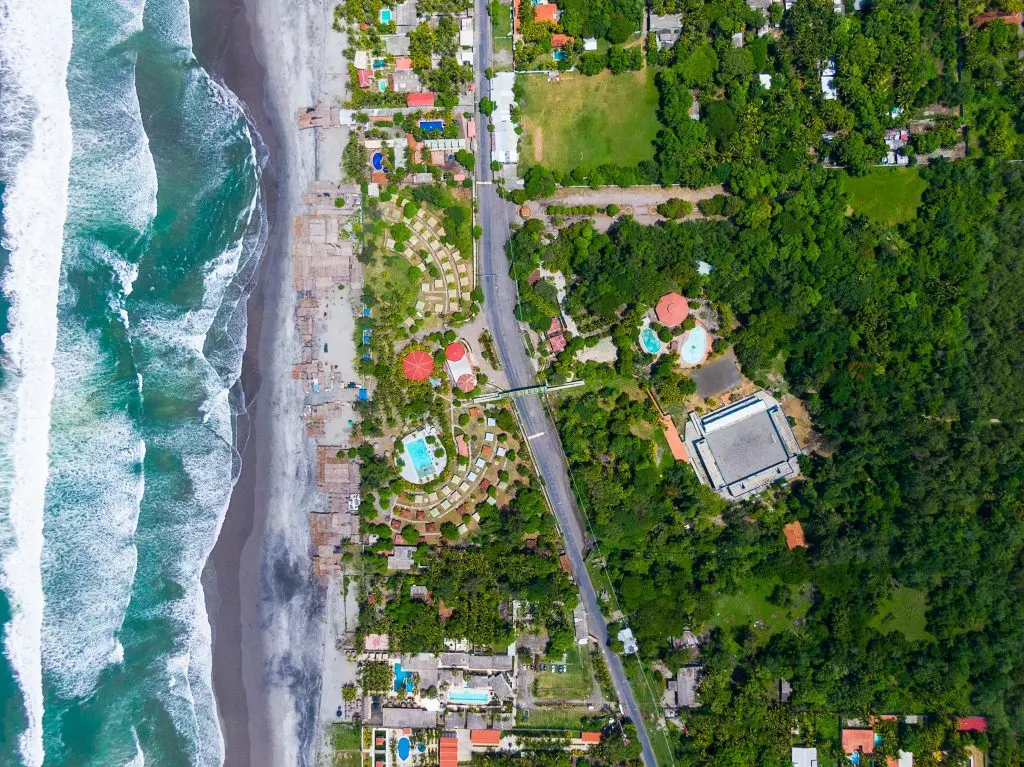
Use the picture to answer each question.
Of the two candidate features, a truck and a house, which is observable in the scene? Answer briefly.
house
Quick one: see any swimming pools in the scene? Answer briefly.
Yes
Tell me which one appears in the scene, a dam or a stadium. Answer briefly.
stadium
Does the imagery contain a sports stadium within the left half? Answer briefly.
No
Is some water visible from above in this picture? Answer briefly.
Yes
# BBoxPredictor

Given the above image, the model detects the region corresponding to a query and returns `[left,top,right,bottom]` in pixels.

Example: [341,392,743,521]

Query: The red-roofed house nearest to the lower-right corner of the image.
[954,715,988,731]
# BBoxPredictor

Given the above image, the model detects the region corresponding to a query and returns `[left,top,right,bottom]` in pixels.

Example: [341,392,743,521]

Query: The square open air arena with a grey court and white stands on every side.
[686,391,801,500]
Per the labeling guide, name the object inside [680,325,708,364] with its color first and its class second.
white swimming pool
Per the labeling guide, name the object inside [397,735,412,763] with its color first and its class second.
blue swimming pool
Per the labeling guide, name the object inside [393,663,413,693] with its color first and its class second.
blue swimming pool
